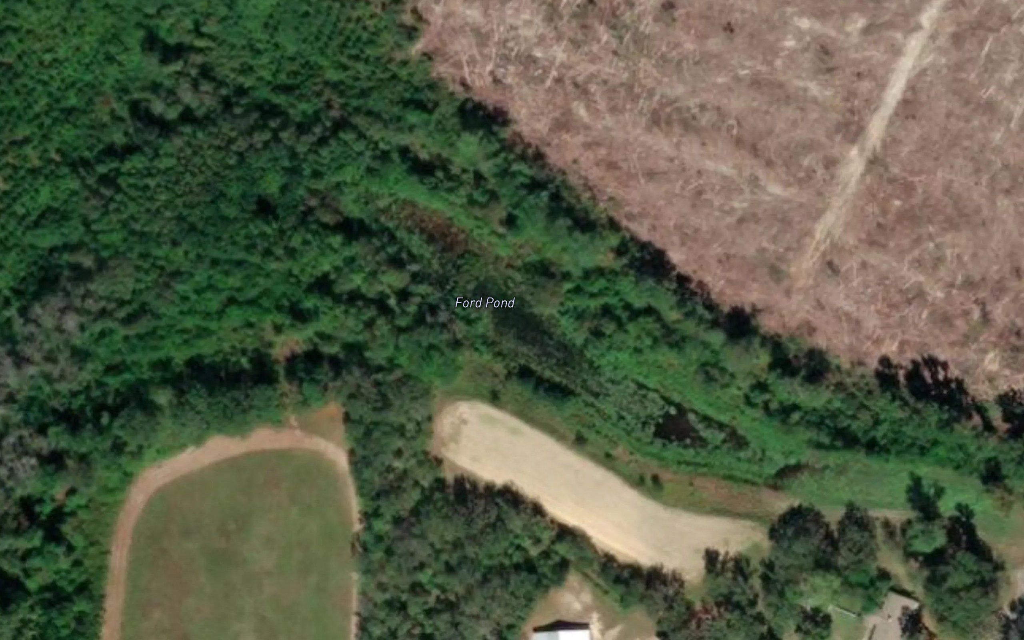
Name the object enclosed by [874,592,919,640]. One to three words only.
house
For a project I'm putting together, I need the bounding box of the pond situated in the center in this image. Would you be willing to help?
[481,288,744,450]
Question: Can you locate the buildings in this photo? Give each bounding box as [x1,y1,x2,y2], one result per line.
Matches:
[533,632,590,640]
[874,592,919,640]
